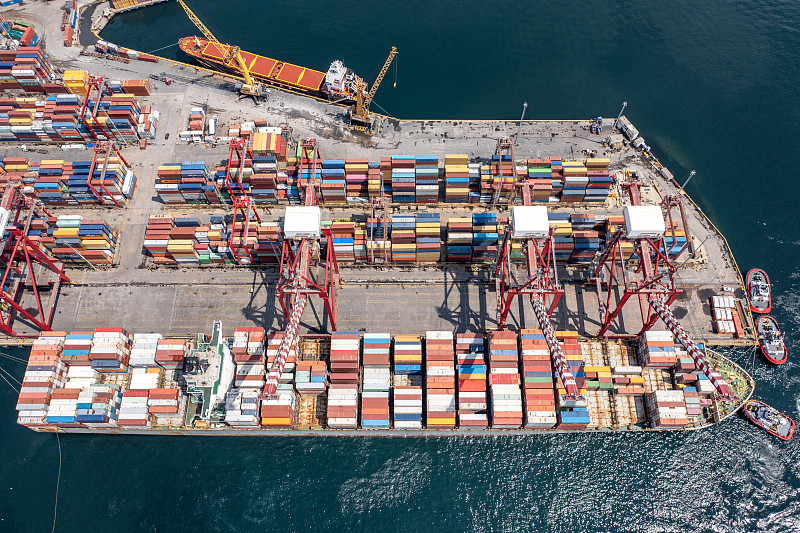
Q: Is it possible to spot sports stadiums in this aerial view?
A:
No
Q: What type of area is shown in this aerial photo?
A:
port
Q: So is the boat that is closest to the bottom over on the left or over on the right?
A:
right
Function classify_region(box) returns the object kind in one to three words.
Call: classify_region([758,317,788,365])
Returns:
boat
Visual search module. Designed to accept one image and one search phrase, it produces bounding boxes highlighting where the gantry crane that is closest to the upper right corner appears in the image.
[659,198,695,264]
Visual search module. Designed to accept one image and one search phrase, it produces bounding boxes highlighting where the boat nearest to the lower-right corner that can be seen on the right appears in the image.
[741,402,798,443]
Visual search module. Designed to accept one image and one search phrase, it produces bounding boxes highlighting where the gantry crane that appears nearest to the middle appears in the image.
[370,199,388,266]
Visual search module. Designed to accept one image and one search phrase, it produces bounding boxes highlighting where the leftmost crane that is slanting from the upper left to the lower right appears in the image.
[177,0,260,98]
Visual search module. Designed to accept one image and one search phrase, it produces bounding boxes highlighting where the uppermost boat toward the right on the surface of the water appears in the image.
[745,269,773,313]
